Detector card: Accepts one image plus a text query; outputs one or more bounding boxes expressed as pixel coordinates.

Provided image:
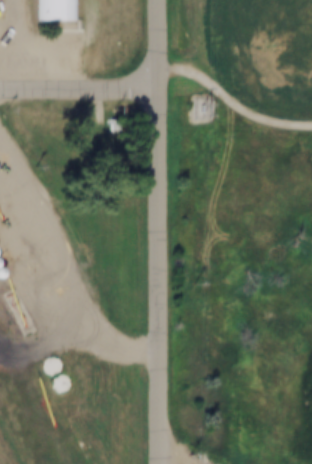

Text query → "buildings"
[104,118,122,136]
[37,0,79,23]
